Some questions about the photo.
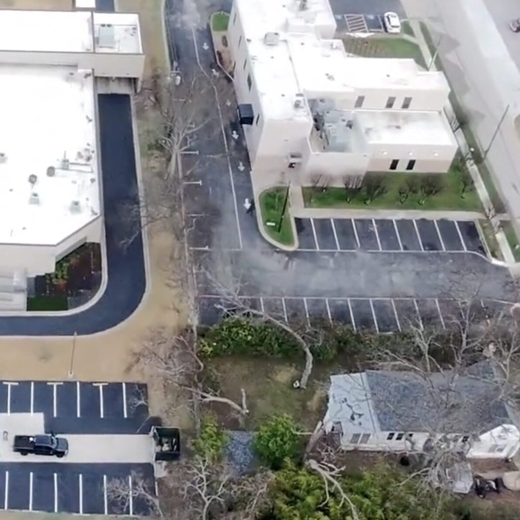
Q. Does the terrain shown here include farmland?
No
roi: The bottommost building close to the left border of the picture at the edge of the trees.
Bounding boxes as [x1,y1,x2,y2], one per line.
[0,7,145,275]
